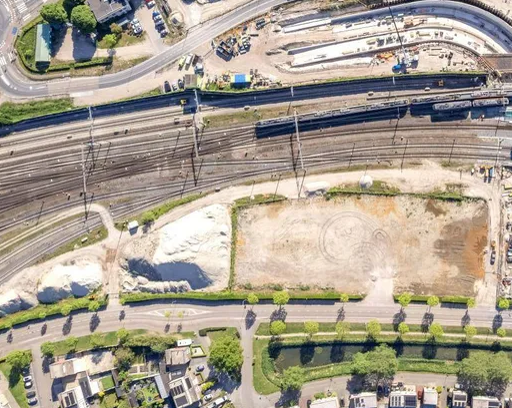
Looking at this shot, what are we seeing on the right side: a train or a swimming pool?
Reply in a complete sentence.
Looking on the right side, you will find a train.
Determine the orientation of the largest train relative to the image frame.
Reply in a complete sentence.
The largest train is oriented horizontally.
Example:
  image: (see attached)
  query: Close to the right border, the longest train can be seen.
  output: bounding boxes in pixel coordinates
[412,88,510,104]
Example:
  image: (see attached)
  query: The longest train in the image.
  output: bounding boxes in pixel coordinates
[256,99,408,124]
